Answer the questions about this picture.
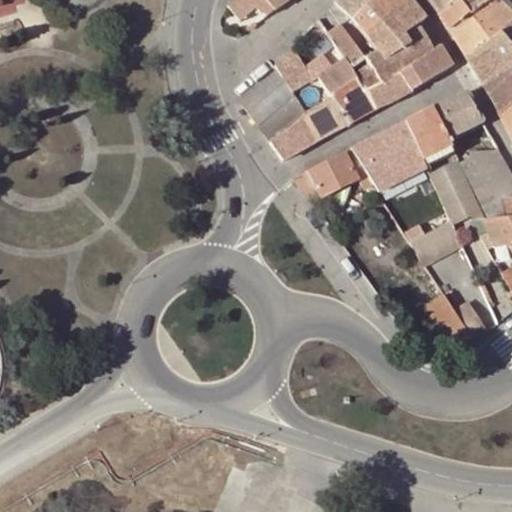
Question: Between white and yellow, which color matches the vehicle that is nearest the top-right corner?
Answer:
white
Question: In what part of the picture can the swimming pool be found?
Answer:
top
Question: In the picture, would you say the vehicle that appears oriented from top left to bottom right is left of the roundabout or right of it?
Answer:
on its right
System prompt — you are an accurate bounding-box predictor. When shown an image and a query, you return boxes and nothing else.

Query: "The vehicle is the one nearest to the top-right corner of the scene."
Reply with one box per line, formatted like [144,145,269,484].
[248,58,275,83]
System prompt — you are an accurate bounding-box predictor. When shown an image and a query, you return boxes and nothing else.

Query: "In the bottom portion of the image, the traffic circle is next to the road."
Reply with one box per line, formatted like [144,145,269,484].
[114,242,298,426]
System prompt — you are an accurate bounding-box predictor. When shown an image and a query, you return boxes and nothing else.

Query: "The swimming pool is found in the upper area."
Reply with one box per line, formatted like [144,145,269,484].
[300,86,320,106]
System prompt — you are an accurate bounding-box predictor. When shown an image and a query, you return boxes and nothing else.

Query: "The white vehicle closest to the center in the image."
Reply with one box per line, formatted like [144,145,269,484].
[340,257,362,281]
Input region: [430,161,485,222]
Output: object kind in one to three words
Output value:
barn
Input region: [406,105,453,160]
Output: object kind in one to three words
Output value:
house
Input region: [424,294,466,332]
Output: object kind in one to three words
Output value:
house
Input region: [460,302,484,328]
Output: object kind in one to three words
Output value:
shed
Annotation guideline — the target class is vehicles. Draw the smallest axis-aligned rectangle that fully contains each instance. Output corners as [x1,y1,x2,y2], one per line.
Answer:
[340,257,362,281]
[141,315,152,338]
[230,196,240,216]
[248,58,275,83]
[230,78,252,98]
